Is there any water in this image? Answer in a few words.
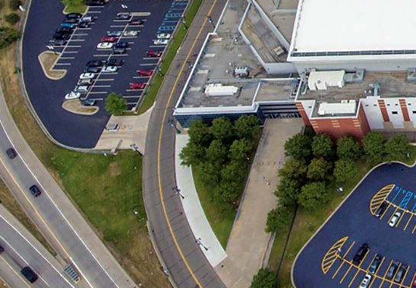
No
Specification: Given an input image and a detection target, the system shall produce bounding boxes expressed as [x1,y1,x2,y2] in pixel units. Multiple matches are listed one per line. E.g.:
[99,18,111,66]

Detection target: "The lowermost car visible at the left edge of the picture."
[19,266,36,283]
